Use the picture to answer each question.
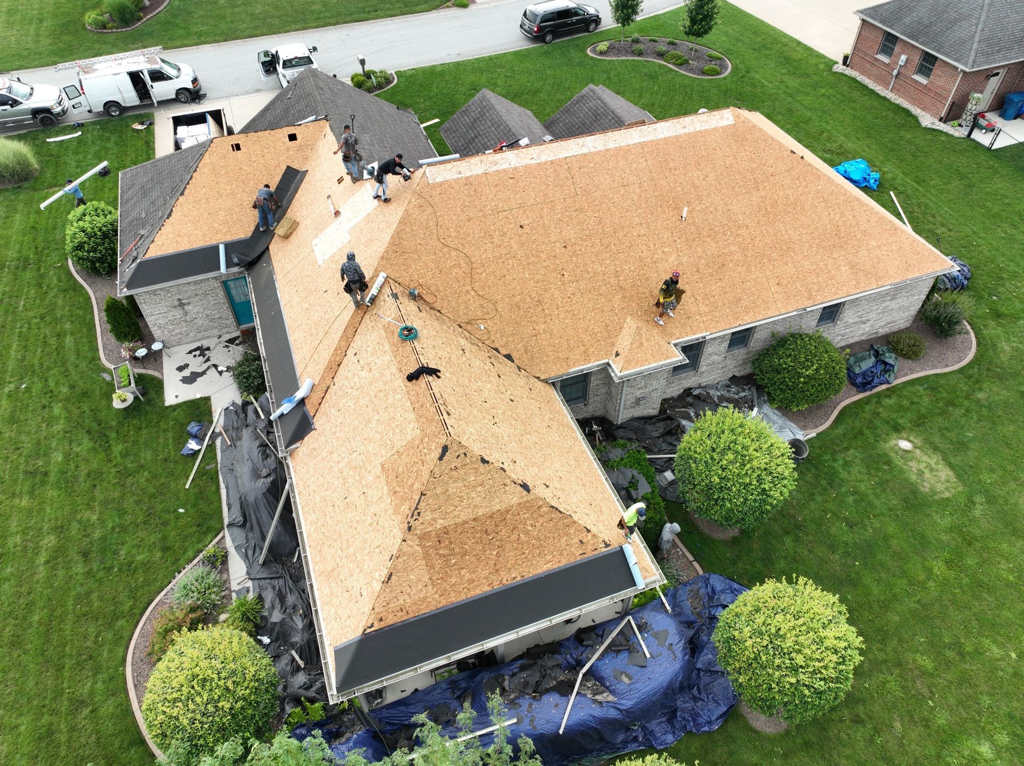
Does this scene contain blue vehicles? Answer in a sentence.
No, the frame has no blue vehicle in it.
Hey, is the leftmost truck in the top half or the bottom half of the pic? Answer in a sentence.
It is in the top half that the leftmost truck appears.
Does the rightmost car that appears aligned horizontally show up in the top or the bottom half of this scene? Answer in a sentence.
Seen from above, the rightmost car that appears aligned horizontally lies in the top half of the view.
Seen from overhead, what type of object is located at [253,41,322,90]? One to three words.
truck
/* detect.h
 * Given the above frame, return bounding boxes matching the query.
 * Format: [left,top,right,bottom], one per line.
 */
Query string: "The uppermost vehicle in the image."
[518,0,608,41]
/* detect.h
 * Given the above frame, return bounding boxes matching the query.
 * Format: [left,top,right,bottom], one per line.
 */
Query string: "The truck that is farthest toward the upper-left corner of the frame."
[0,69,74,128]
